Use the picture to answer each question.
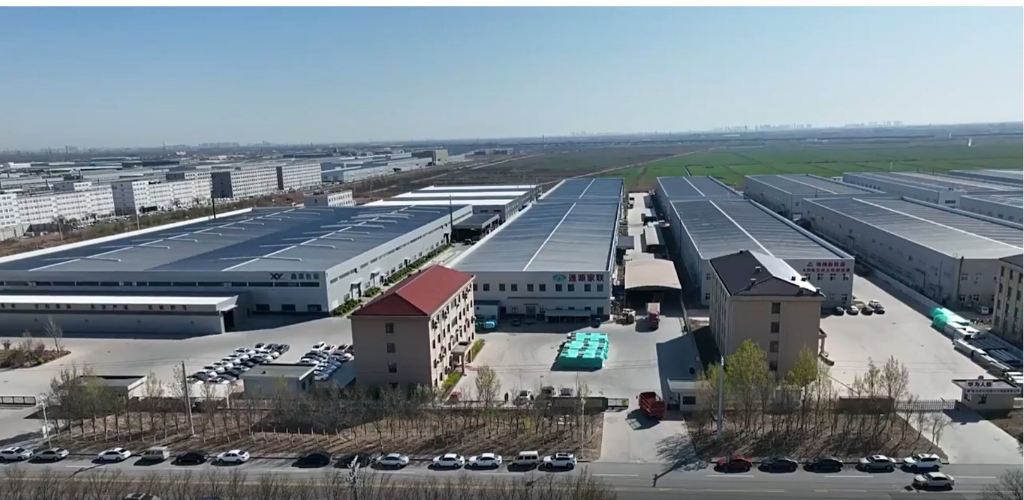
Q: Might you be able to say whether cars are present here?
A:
Yes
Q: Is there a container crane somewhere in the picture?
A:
No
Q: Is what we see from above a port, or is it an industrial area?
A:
industrial area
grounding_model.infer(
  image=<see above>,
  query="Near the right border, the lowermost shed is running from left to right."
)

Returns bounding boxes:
[948,376,1024,412]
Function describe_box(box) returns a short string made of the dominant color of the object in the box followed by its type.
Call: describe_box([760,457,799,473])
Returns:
black car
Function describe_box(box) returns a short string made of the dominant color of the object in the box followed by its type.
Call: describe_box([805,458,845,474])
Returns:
black car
